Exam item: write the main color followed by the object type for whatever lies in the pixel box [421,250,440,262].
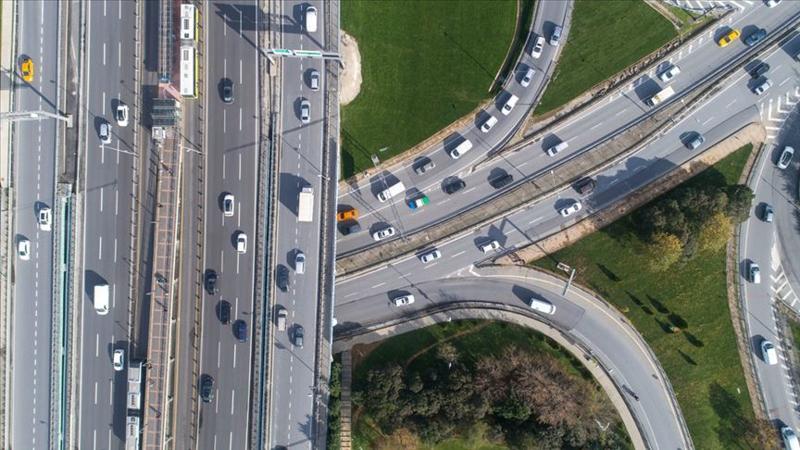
white vehicle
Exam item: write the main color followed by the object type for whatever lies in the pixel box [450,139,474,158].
white vehicle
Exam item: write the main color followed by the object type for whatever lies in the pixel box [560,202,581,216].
white car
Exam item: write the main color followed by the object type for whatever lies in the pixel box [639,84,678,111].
white truck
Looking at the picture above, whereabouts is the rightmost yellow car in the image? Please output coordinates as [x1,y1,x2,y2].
[717,30,740,46]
